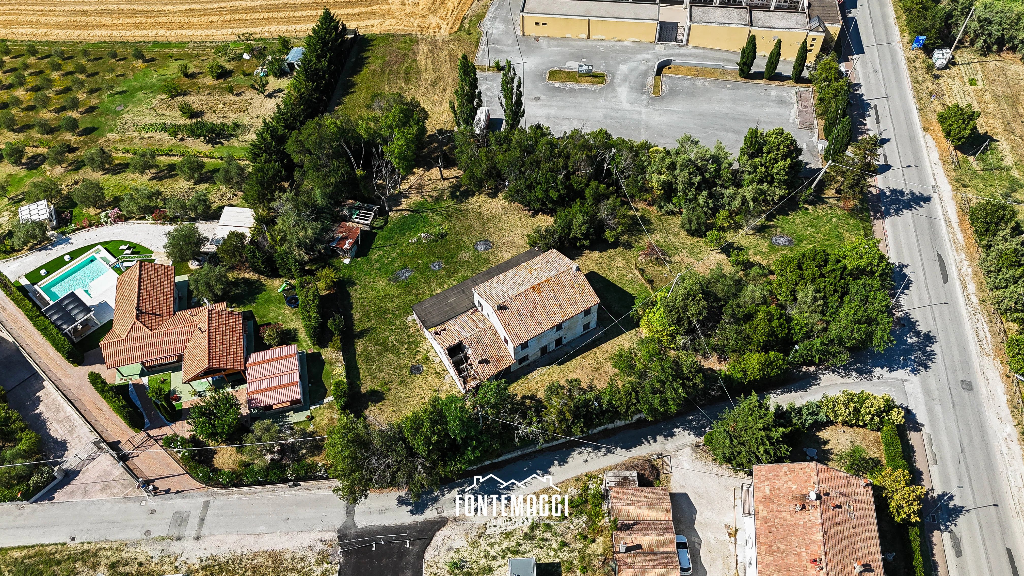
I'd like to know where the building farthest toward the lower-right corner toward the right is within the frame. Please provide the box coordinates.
[741,464,888,576]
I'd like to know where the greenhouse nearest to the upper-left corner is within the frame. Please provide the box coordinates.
[285,43,310,71]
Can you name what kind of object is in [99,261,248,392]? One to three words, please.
house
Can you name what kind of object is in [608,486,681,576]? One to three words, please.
shed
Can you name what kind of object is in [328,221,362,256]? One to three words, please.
shed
